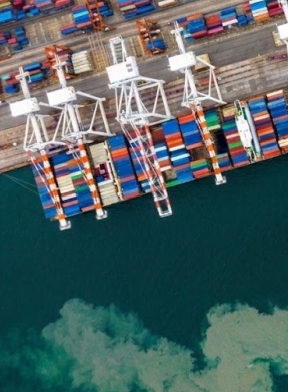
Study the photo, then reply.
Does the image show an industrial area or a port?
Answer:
port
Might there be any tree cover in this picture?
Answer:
No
